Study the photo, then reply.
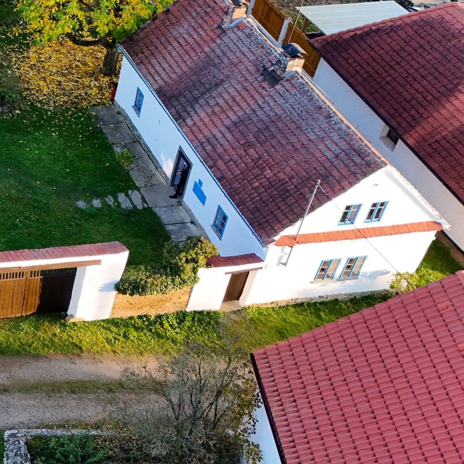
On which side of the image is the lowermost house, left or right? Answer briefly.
right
